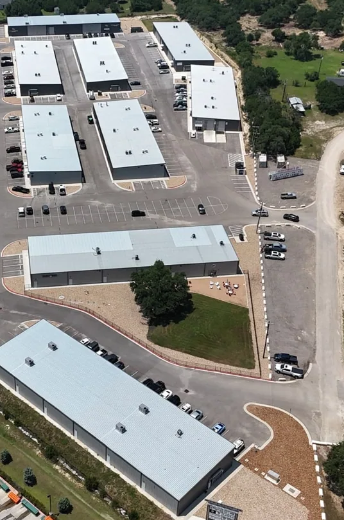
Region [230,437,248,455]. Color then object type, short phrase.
white car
